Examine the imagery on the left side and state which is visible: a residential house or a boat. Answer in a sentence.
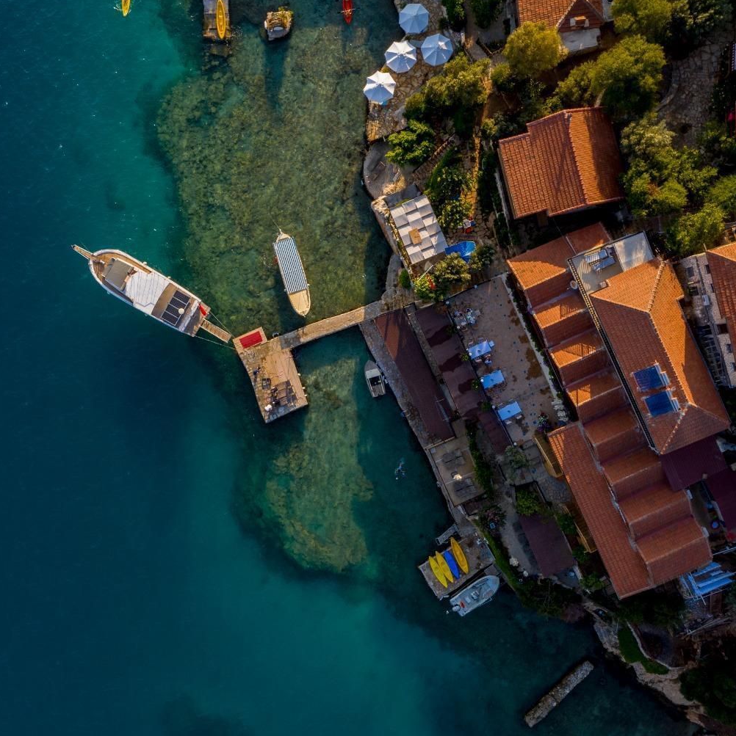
There is a boat on the left side.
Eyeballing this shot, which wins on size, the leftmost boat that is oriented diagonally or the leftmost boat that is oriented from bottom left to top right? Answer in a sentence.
The leftmost boat that is oriented diagonally is larger than the leftmost boat that is oriented from bottom left to top right.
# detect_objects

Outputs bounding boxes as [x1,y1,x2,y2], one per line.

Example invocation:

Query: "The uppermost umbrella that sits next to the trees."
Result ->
[398,5,429,36]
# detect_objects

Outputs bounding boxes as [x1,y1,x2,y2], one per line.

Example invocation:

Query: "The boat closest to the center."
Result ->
[365,361,387,400]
